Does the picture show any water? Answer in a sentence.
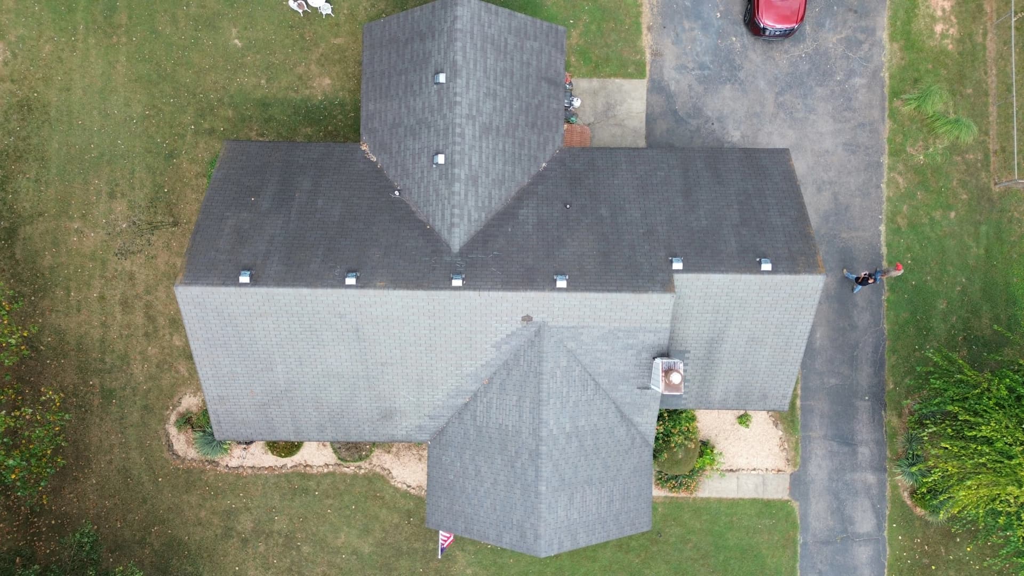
No, the picture contains no water.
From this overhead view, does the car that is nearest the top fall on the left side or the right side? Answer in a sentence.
The car that is nearest the top sits on the right side.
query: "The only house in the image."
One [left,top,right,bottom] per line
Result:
[175,0,825,557]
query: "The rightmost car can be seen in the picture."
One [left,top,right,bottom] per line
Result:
[745,0,803,38]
